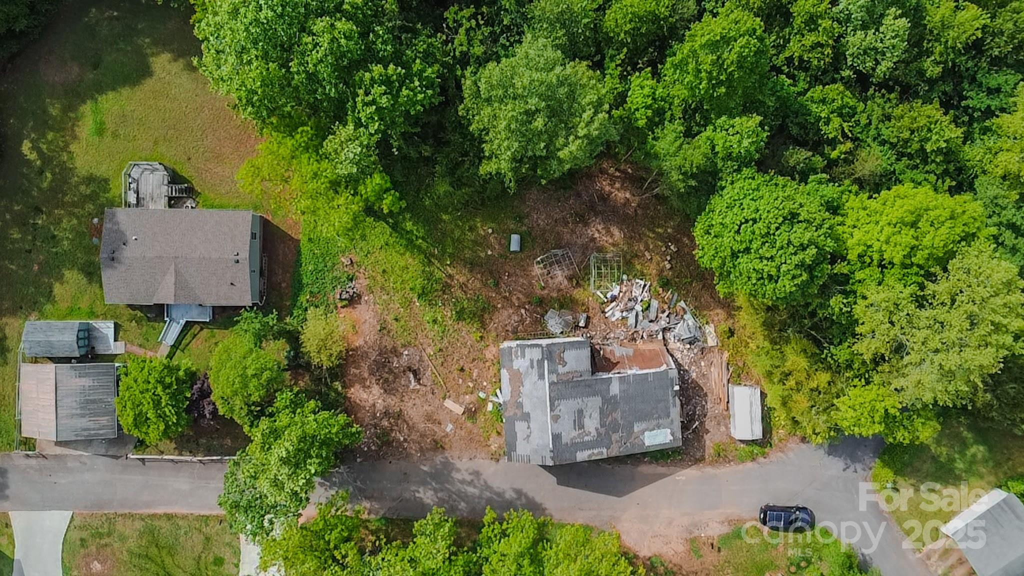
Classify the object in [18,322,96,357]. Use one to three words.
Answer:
shed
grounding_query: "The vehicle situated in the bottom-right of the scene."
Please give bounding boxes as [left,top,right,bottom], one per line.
[758,503,816,534]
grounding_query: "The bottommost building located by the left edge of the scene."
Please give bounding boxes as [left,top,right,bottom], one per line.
[20,363,133,444]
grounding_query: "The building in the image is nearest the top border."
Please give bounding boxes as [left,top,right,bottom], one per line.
[98,208,263,306]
